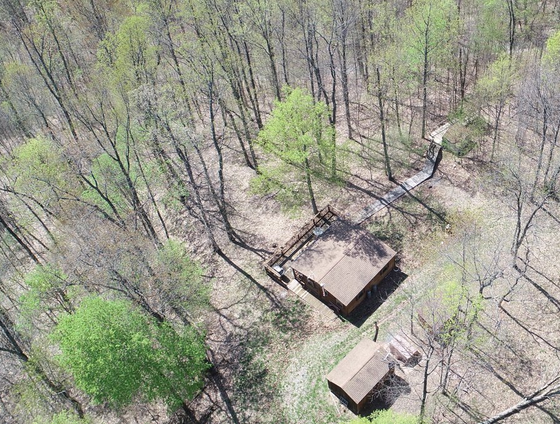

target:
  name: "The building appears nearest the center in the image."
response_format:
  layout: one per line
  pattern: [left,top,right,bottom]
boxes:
[290,218,397,315]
